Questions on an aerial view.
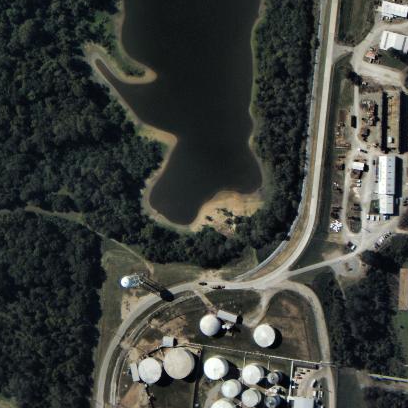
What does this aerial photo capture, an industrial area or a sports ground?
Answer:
industrial area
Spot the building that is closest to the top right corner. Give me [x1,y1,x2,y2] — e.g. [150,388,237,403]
[381,1,408,17]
